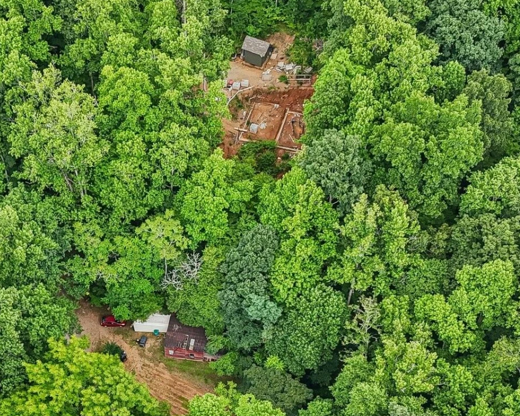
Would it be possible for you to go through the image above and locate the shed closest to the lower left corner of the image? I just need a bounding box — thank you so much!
[132,309,167,332]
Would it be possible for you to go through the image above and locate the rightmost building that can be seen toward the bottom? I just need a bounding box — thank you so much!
[163,313,208,359]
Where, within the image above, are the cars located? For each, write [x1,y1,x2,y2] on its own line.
[113,342,126,363]
[100,314,125,326]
